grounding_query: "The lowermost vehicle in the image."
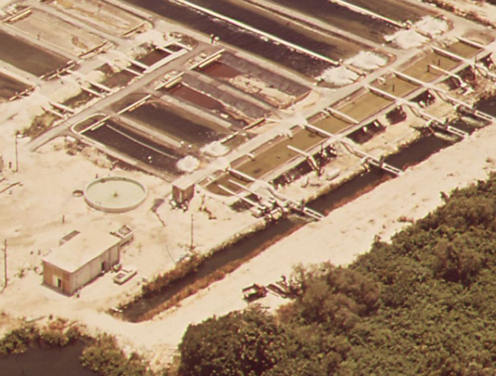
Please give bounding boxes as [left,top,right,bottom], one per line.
[241,281,266,299]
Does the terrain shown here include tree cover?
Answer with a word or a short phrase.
Yes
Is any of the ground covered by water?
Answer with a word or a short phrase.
Yes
